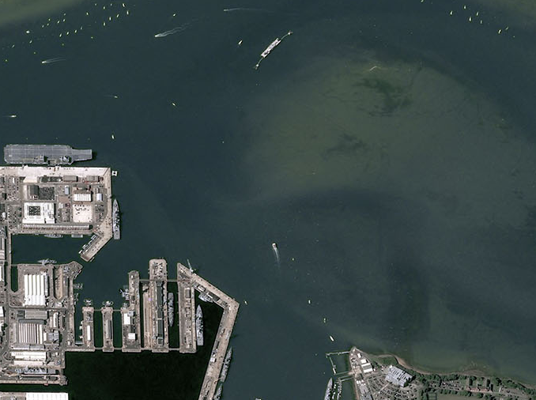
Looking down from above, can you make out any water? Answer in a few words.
Yes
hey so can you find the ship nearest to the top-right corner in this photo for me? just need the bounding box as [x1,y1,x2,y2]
[260,31,289,59]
